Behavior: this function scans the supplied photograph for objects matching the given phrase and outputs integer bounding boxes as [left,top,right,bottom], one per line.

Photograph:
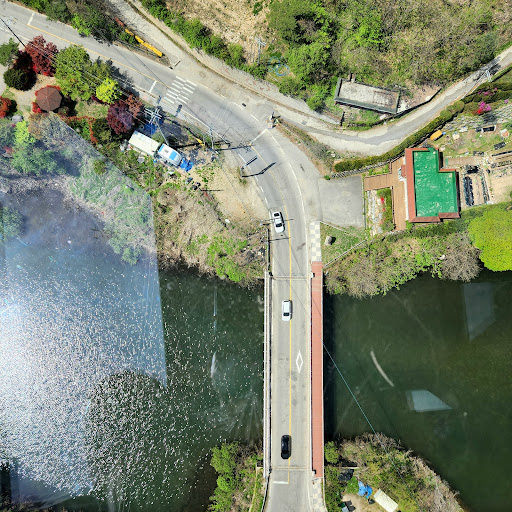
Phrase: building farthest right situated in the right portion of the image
[396,148,458,224]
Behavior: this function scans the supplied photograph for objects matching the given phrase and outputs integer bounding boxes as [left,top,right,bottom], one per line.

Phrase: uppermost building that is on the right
[336,77,400,114]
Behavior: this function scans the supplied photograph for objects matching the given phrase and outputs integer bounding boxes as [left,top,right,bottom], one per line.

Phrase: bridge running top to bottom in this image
[263,262,326,478]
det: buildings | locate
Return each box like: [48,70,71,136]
[396,148,458,224]
[336,77,400,114]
